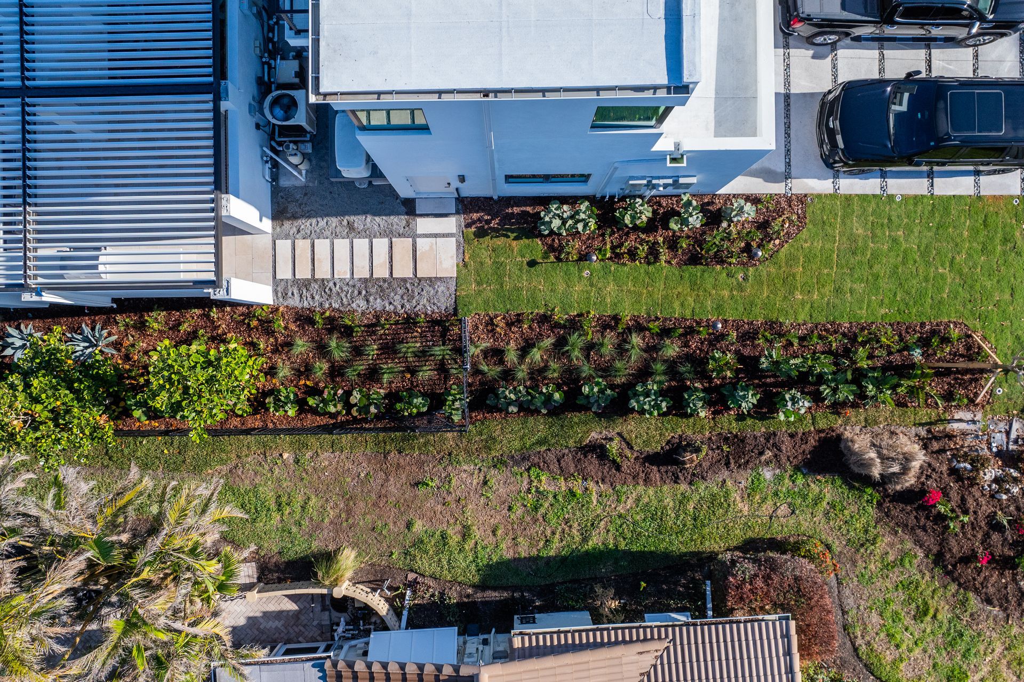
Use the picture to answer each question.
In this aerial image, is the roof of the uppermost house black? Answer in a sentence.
No, the roof of the uppermost house is white.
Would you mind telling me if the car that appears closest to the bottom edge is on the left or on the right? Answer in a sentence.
The car that appears closest to the bottom edge sits on the right side.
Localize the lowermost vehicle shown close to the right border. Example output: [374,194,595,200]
[815,66,1024,172]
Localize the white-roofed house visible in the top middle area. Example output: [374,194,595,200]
[307,0,774,201]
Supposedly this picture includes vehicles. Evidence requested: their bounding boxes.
[815,66,1024,172]
[775,0,1024,41]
